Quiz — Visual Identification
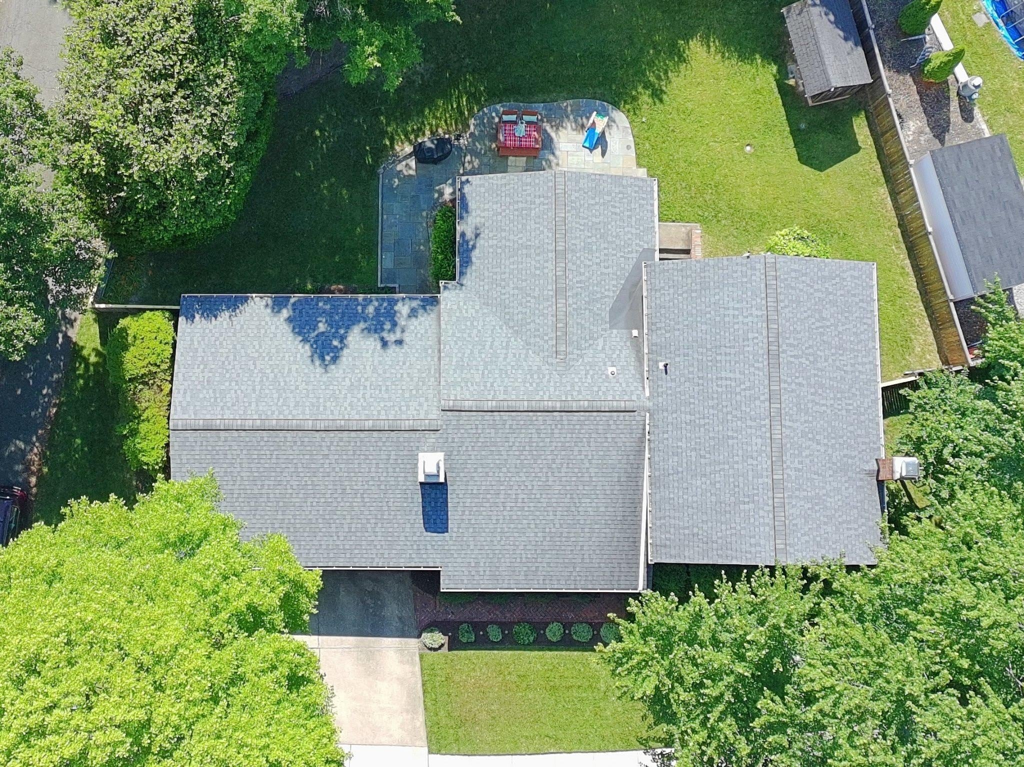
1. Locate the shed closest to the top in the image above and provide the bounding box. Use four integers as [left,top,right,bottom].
[778,0,874,111]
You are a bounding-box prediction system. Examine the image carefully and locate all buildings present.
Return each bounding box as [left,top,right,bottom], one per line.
[166,170,923,595]
[778,0,874,111]
[905,127,1024,303]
